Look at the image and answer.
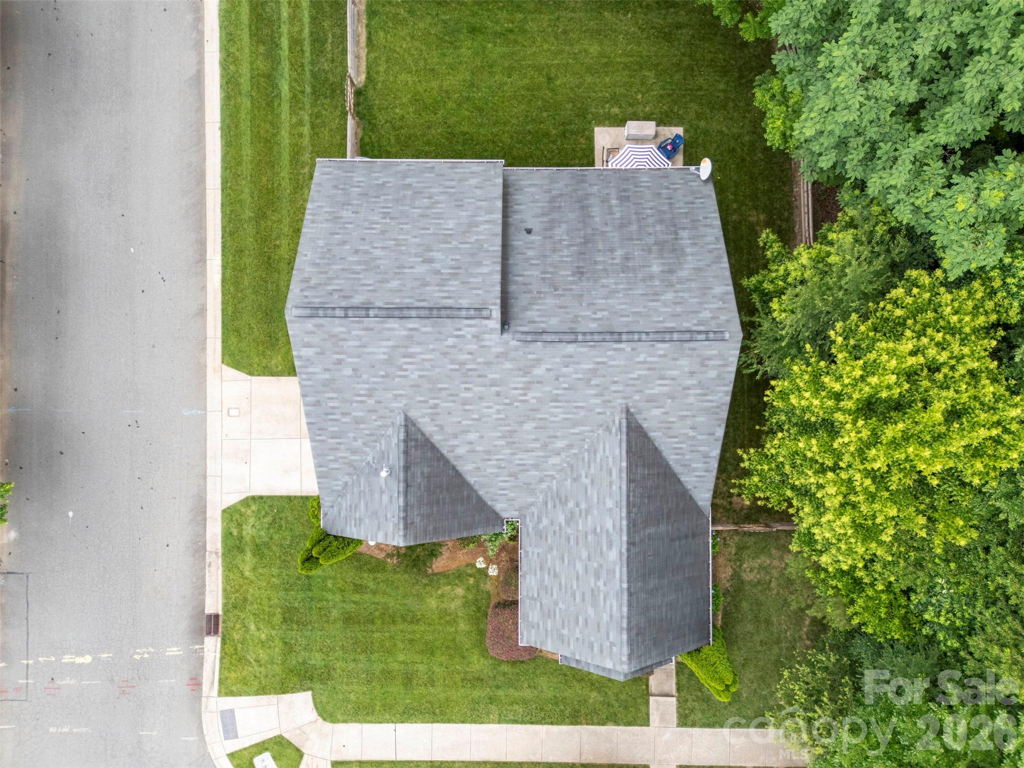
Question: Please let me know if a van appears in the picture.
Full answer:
No, the picture doesn't show any van.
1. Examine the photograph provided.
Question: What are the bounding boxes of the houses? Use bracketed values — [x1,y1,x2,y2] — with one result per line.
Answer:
[287,161,742,681]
